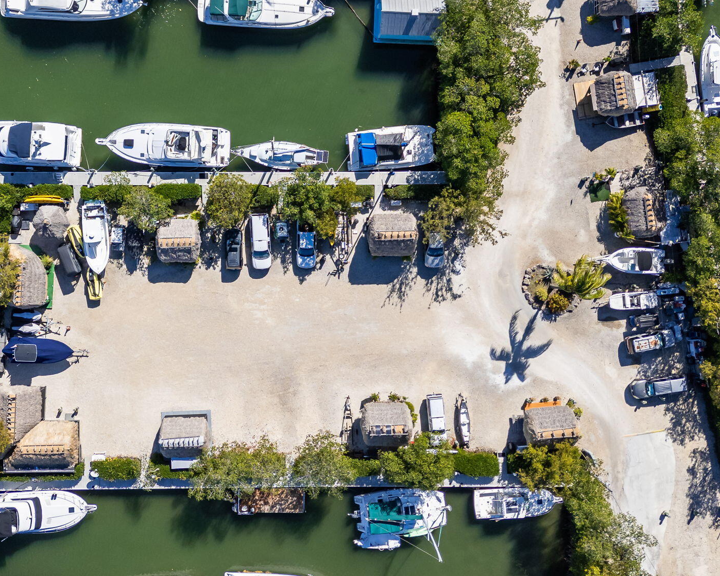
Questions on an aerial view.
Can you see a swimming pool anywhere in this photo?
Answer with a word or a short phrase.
No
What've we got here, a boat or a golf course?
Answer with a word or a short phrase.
boat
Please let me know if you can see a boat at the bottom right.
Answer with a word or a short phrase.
Yes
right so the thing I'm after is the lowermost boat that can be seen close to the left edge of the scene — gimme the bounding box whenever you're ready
[0,487,99,541]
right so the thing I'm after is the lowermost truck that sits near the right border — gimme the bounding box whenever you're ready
[628,373,689,400]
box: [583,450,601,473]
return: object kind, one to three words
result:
boat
